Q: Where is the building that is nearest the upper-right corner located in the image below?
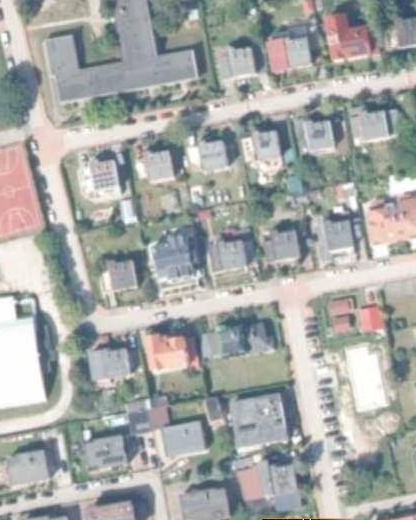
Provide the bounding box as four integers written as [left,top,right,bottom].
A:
[387,18,416,51]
